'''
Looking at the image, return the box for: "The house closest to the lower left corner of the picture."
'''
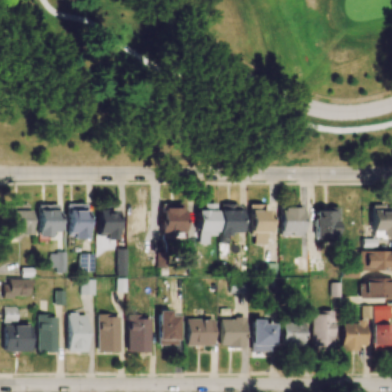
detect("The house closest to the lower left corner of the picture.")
[4,324,34,355]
